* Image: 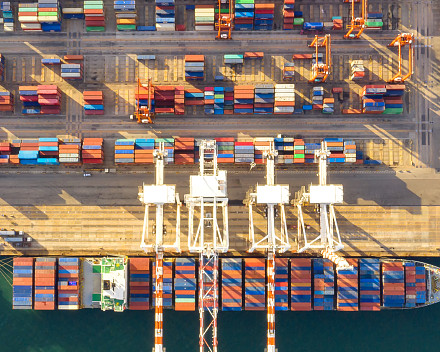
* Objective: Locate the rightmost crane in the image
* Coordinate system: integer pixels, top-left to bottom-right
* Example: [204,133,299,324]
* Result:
[388,34,415,84]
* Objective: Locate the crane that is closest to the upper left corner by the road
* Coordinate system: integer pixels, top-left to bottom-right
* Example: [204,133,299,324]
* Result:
[134,76,155,123]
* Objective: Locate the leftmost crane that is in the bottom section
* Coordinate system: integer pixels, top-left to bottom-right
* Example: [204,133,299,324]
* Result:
[132,133,182,352]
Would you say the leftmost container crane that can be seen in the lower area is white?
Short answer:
Yes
